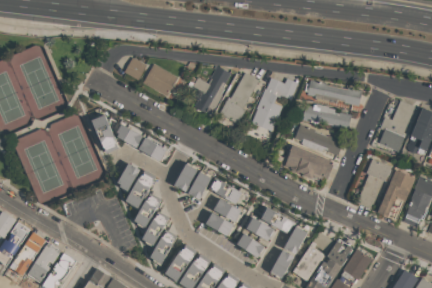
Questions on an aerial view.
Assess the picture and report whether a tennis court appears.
Yes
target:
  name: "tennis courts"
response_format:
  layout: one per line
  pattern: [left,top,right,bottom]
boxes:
[0,60,30,130]
[47,114,100,186]
[16,130,69,202]
[10,46,63,118]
